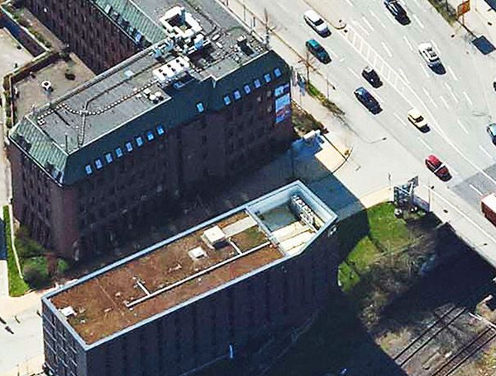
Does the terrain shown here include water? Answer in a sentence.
No, the picture contains no water.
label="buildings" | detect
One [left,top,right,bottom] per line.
[8,0,294,261]
[42,179,343,376]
